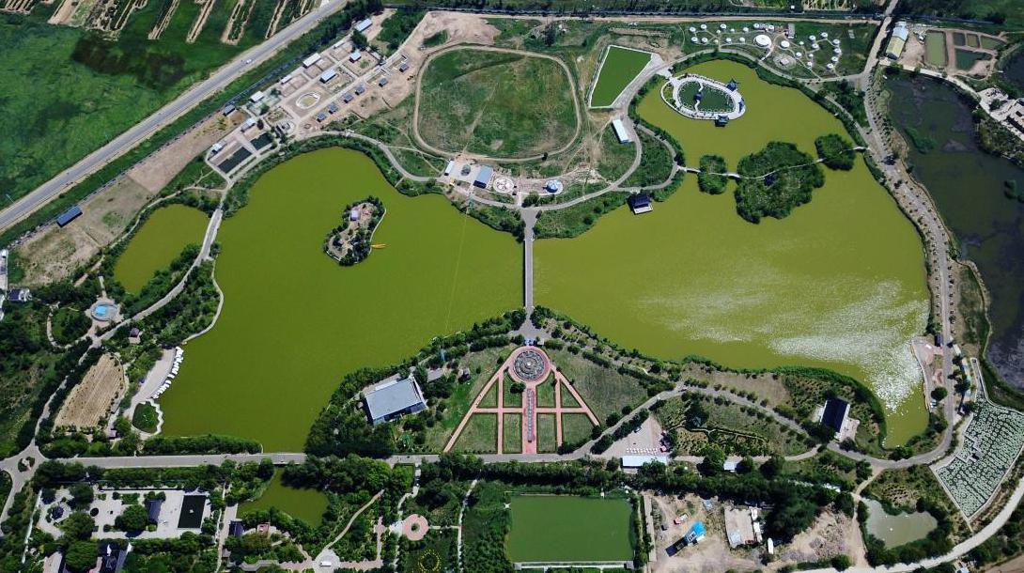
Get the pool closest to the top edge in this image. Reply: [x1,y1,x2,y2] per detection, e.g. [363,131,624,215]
[87,298,121,324]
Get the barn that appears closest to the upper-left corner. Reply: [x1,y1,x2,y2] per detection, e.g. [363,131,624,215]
[57,206,85,229]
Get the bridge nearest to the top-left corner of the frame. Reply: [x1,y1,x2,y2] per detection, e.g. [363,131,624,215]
[190,207,222,271]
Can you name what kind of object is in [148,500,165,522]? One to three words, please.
building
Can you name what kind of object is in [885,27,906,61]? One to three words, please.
barn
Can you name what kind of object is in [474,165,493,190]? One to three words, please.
building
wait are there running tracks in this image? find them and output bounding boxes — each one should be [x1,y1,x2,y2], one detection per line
[413,44,582,162]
